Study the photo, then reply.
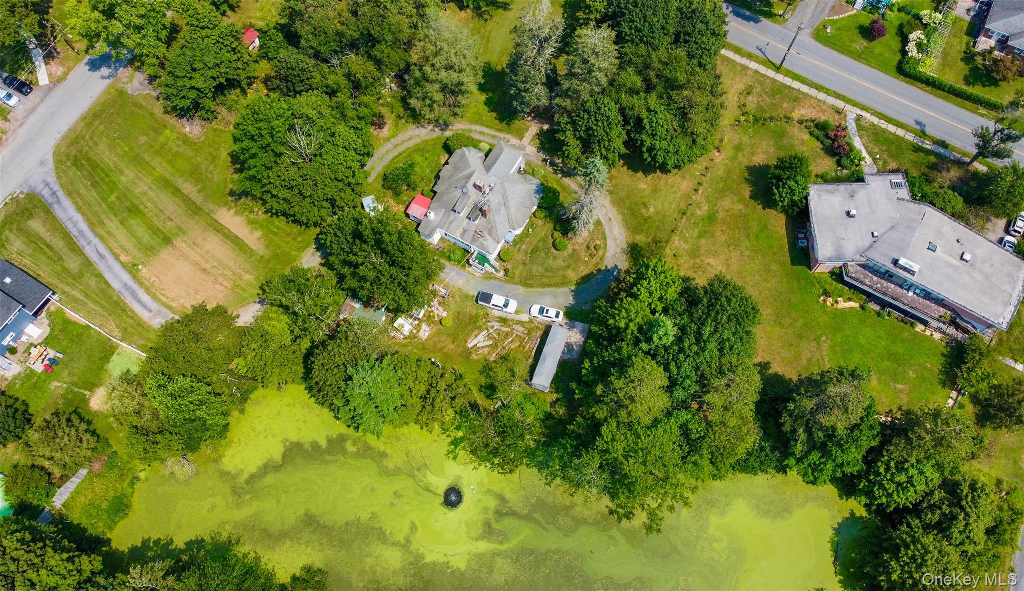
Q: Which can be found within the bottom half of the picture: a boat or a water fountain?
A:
water fountain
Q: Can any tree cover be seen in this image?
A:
Yes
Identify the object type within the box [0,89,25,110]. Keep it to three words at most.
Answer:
car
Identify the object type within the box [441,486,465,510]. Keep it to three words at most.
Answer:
fountain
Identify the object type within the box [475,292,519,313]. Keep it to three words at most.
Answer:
truck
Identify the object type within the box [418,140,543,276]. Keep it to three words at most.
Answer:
house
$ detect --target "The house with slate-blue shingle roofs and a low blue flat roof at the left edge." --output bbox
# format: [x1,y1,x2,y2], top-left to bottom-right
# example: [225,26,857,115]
[0,256,59,372]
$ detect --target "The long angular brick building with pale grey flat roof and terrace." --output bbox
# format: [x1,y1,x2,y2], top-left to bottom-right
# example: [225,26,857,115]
[803,172,1024,349]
